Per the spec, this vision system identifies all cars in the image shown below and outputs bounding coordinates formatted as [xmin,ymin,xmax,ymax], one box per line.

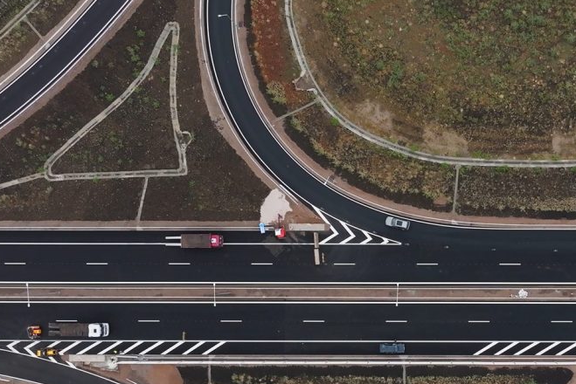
[380,341,405,353]
[385,216,411,229]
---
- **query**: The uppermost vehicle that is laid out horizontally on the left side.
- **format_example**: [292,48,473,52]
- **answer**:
[165,232,224,248]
